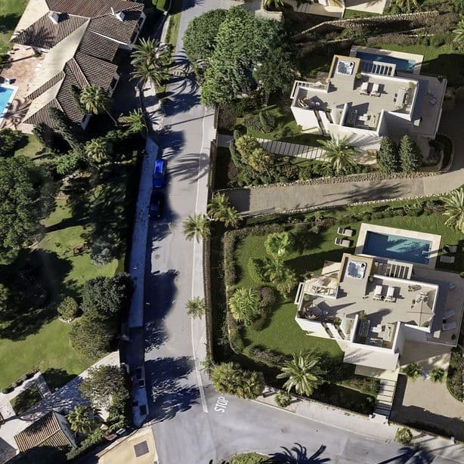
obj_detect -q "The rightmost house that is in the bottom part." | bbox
[292,251,464,398]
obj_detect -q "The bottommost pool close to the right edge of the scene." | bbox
[354,223,442,269]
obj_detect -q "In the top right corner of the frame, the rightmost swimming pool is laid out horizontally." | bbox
[348,45,424,78]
